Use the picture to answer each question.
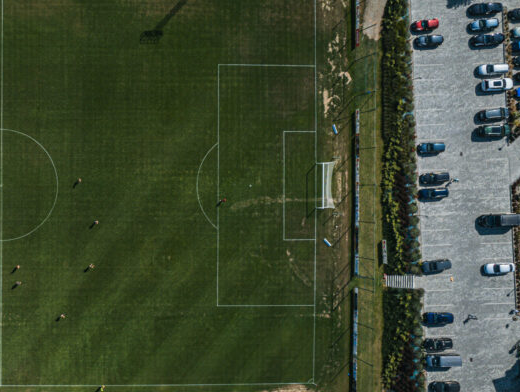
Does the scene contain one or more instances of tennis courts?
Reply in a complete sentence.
No, no tennis court can be seen from above.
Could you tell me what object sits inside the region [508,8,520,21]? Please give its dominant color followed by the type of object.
black vehicle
